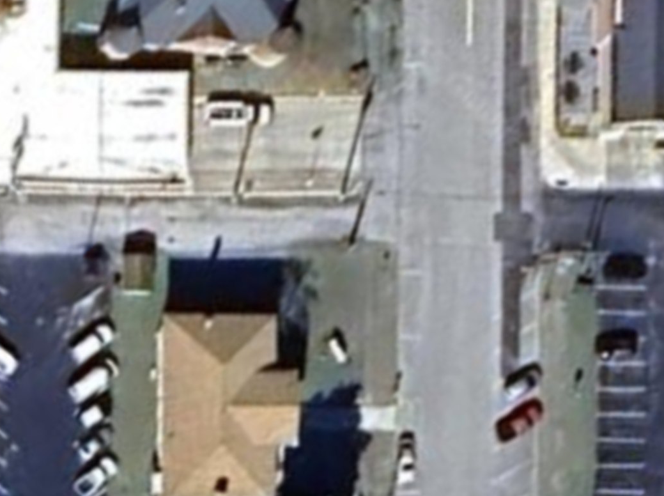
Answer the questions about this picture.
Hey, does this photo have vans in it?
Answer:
Yes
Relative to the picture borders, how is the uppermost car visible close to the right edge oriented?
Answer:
horizontally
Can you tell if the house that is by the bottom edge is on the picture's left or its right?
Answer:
left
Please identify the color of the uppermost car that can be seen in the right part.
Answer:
black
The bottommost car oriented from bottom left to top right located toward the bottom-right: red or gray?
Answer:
red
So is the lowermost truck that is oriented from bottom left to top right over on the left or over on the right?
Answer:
left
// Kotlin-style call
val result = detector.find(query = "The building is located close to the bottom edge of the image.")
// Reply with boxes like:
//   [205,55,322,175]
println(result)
[148,312,300,496]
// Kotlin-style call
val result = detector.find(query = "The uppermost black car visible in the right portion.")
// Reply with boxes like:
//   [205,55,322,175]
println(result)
[601,255,649,279]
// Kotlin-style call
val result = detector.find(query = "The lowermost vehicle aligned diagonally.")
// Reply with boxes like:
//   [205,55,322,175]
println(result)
[67,454,122,496]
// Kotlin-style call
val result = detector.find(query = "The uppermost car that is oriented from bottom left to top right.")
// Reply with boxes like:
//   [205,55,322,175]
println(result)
[67,318,119,360]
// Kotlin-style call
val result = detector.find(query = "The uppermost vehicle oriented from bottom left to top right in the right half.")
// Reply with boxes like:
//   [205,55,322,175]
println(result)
[499,361,546,399]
